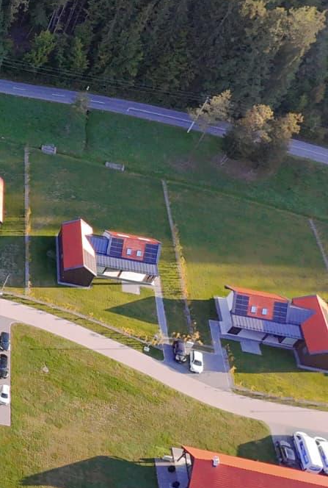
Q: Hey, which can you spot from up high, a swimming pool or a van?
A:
van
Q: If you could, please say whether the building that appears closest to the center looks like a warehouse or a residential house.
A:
residential house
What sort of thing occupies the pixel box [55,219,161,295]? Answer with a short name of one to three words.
house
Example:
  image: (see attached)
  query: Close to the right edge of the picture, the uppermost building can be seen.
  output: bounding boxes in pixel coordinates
[209,286,328,374]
